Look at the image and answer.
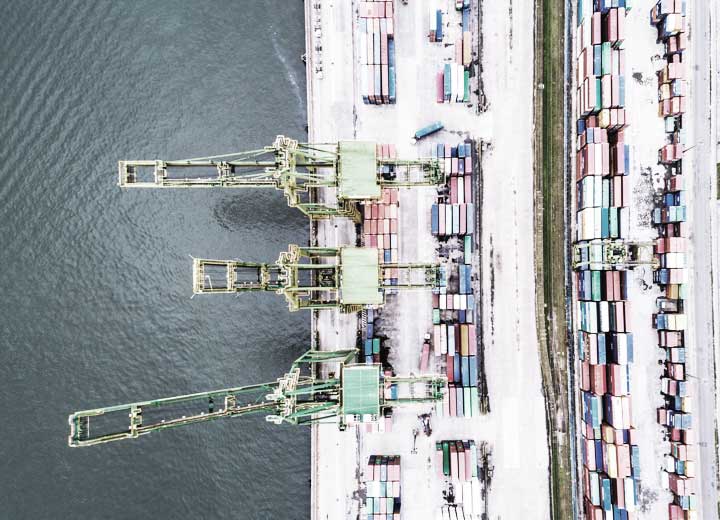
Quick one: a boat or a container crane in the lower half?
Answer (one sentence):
There is a container crane in the lower half.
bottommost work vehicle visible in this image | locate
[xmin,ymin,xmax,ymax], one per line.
[417,414,434,441]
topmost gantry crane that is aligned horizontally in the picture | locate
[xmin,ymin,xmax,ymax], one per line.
[117,133,451,232]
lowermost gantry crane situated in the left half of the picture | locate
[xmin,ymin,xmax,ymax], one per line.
[67,335,451,450]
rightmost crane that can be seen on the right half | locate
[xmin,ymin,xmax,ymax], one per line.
[572,240,660,272]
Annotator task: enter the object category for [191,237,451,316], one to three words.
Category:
container crane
